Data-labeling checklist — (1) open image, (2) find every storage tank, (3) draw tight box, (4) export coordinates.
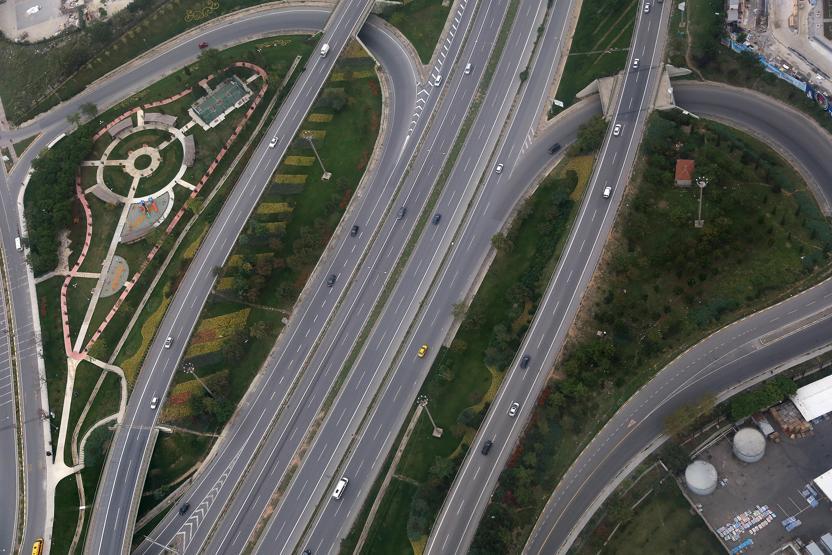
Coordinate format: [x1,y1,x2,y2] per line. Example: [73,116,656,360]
[685,460,718,496]
[732,427,766,465]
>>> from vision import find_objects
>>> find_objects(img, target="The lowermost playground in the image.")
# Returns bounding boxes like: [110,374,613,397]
[100,255,128,297]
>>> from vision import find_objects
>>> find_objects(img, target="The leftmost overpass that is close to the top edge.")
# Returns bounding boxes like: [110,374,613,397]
[311,0,404,67]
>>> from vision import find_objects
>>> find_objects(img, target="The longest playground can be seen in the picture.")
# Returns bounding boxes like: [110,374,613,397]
[120,192,170,244]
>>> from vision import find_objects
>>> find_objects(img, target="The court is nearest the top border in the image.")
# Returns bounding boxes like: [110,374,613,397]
[193,77,249,124]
